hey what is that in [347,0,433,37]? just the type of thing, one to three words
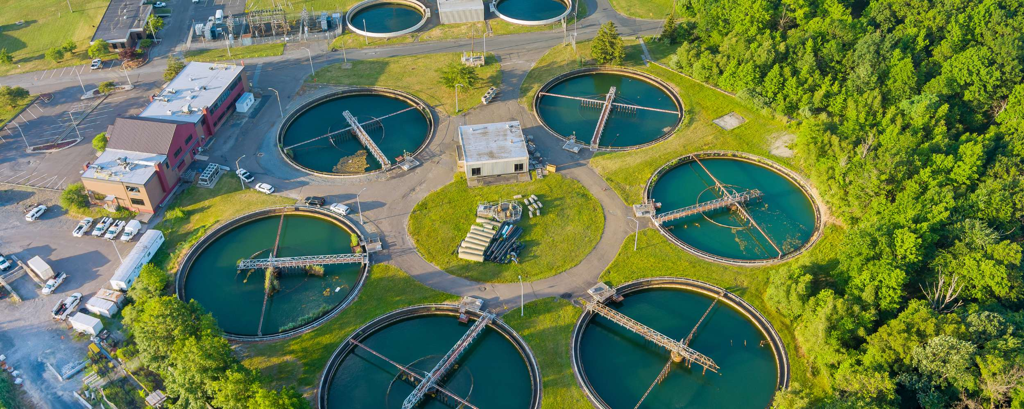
water tank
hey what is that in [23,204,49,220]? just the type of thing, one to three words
car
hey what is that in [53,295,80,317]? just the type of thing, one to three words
truck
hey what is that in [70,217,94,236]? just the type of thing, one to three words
vehicle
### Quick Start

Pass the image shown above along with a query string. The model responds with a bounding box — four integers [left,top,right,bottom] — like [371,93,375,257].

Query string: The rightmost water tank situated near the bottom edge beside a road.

[574,276,790,409]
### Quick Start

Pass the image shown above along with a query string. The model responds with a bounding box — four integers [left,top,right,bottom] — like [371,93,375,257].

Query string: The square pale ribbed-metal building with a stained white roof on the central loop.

[454,121,532,186]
